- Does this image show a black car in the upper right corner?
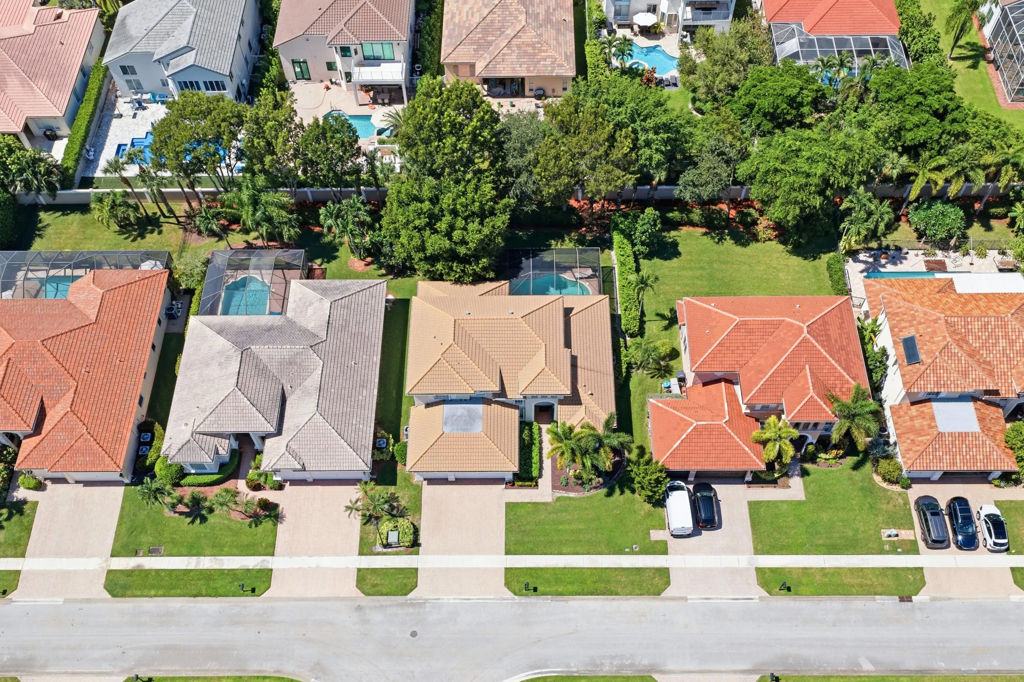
No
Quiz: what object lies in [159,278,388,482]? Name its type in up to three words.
house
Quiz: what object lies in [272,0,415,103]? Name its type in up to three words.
house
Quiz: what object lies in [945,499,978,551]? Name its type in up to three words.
car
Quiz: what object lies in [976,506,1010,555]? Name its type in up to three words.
car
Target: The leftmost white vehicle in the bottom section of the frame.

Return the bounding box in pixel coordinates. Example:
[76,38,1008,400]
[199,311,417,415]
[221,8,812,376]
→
[665,485,692,540]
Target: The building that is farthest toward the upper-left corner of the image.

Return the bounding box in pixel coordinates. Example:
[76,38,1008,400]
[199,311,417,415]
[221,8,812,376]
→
[0,0,103,143]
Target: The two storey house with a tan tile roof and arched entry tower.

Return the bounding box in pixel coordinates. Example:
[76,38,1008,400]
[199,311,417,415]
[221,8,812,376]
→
[404,279,618,482]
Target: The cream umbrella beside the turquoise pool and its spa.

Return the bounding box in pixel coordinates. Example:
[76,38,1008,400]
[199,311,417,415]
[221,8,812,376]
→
[371,113,390,133]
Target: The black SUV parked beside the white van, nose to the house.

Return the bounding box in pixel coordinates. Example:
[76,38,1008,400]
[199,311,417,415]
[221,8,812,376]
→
[693,484,718,534]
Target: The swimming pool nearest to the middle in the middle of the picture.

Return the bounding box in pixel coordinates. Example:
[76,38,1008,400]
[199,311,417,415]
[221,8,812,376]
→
[509,272,594,295]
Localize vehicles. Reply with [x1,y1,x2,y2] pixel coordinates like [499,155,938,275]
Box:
[665,485,692,540]
[693,484,718,534]
[976,506,1010,555]
[915,498,949,551]
[945,499,978,551]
